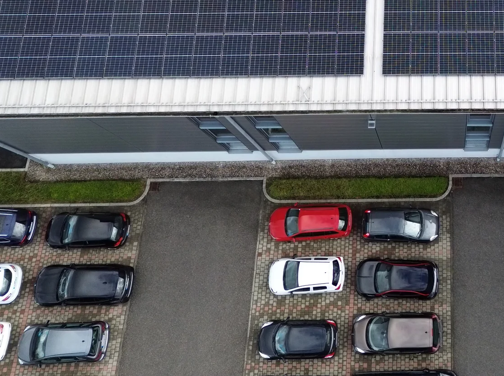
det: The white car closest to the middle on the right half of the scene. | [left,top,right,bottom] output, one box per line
[267,253,346,301]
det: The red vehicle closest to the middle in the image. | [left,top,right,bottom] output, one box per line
[268,200,353,245]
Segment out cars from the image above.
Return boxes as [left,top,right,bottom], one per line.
[357,368,452,376]
[15,318,115,371]
[30,258,138,311]
[0,264,29,308]
[0,209,42,252]
[267,253,346,301]
[361,203,439,247]
[268,200,353,245]
[351,309,442,362]
[42,207,134,254]
[354,255,438,304]
[257,314,340,366]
